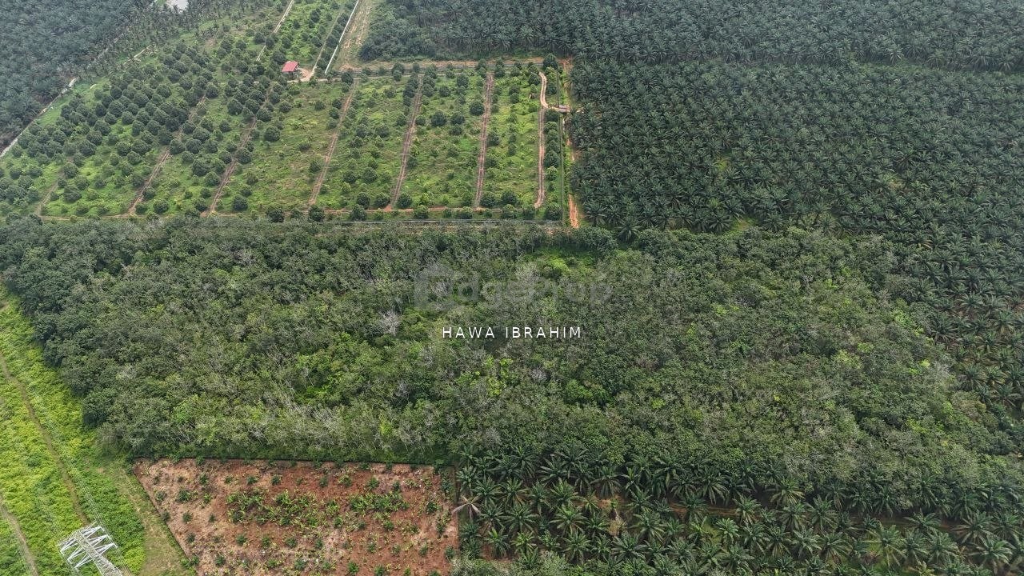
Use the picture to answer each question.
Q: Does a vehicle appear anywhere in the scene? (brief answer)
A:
No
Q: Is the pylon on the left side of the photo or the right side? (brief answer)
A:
left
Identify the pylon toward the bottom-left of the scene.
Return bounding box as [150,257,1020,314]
[52,518,145,576]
